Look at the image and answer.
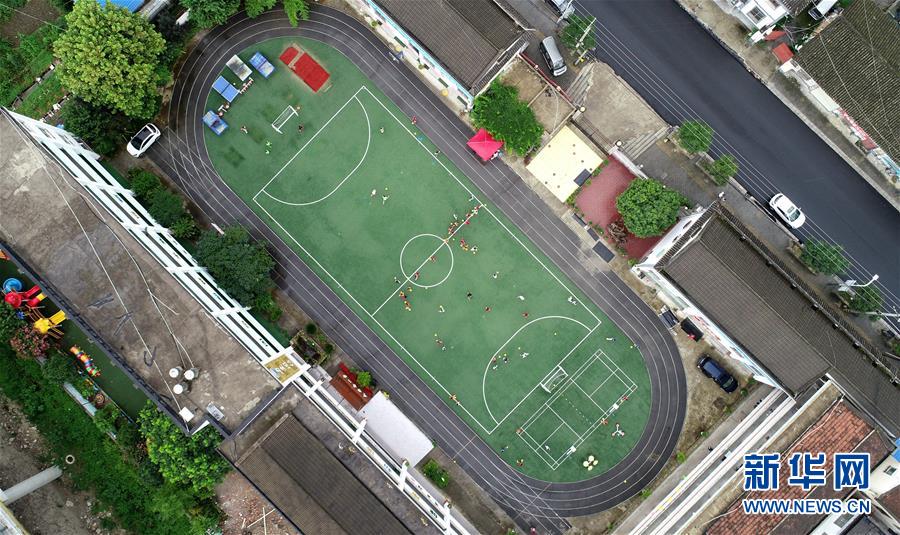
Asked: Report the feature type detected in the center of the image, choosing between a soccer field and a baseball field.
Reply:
soccer field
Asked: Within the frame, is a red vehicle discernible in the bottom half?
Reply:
No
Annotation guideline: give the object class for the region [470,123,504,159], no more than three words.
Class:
tent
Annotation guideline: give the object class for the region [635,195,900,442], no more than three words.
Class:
building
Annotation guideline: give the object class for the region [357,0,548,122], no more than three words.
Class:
building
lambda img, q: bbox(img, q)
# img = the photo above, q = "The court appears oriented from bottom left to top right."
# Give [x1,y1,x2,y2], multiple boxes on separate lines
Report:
[517,350,637,470]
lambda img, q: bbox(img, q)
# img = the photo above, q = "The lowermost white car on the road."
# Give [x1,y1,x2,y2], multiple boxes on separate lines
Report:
[767,192,804,228]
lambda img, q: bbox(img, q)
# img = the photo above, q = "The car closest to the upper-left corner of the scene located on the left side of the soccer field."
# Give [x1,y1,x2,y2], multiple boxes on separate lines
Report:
[128,122,163,157]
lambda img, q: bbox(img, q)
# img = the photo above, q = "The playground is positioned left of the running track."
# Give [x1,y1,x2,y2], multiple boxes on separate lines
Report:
[2,275,67,339]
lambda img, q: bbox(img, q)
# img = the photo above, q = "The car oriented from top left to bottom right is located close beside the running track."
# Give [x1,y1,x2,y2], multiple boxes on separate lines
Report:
[695,354,736,392]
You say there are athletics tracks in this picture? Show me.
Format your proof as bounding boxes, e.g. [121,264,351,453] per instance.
[108,2,686,535]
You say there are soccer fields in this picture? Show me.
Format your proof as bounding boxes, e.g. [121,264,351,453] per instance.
[204,37,651,484]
